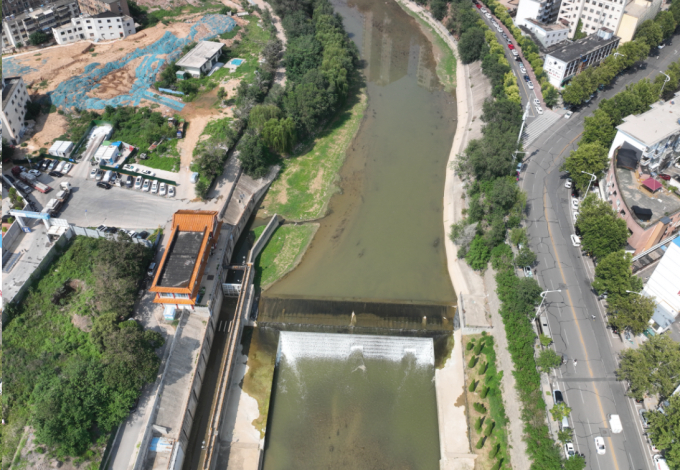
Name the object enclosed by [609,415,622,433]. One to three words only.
vehicle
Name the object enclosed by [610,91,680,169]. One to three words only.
building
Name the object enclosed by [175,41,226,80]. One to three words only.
house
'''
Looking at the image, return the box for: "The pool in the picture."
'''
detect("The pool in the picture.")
[225,58,246,73]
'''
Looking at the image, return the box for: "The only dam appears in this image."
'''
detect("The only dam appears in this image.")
[214,284,471,470]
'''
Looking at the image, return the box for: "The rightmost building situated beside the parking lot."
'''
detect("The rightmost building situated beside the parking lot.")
[149,214,223,315]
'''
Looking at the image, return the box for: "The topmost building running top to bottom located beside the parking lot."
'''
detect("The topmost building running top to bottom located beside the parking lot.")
[0,76,31,149]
